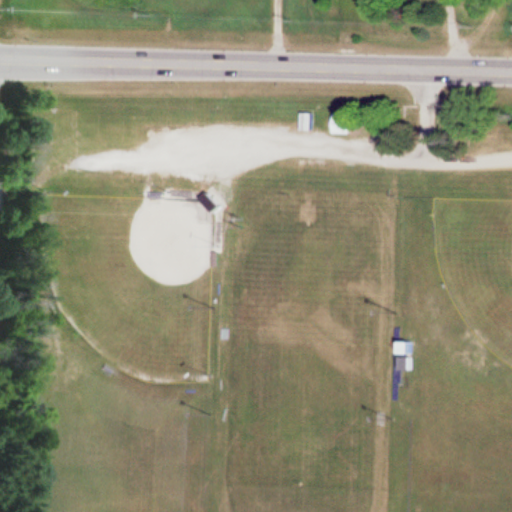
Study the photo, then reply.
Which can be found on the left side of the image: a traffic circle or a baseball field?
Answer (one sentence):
Visible on the left side of the image is a baseball field.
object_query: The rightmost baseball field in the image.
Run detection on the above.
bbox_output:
[433,200,512,366]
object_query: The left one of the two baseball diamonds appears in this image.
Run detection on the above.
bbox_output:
[47,190,216,384]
